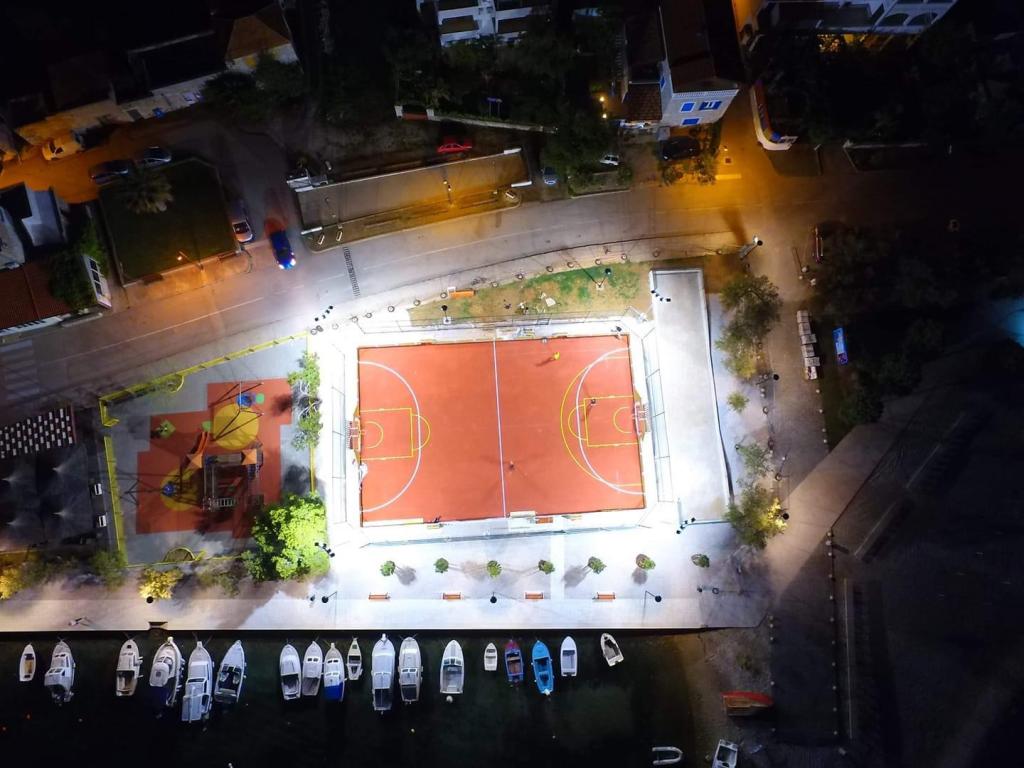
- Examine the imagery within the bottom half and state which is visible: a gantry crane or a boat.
boat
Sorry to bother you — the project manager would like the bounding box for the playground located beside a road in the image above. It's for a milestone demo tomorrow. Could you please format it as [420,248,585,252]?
[99,335,318,564]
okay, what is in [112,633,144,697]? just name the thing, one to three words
boat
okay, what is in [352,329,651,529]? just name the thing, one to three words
sports court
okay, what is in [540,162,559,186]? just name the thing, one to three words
car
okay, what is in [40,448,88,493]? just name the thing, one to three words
umbrella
